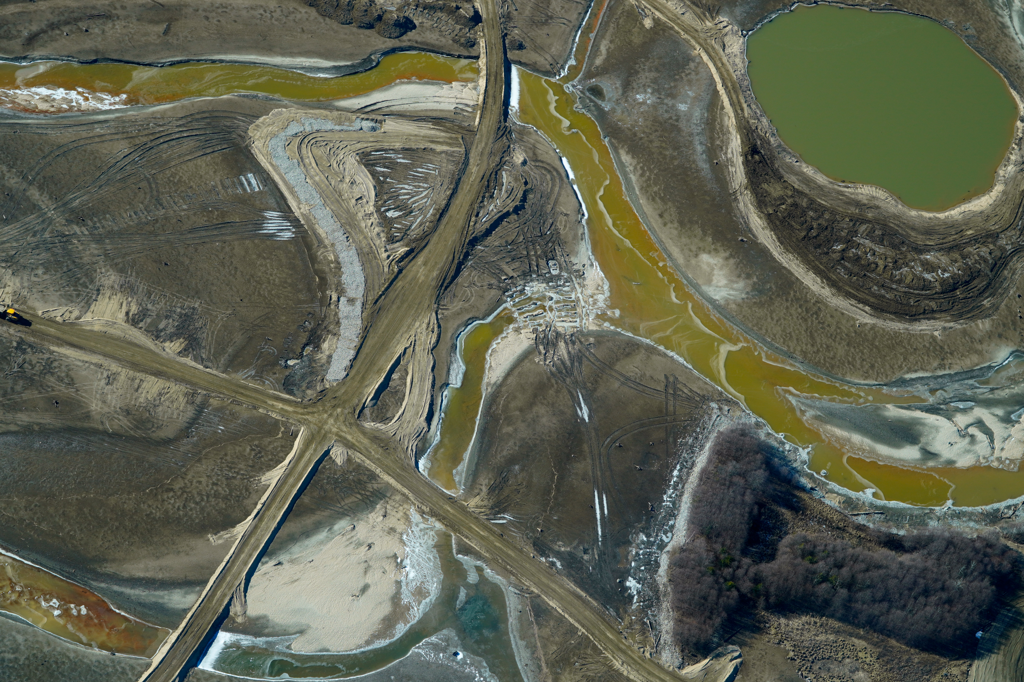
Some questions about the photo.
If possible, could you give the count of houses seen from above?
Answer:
0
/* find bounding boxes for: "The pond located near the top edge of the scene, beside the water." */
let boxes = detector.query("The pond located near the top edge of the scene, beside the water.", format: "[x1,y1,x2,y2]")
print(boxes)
[745,5,1018,211]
